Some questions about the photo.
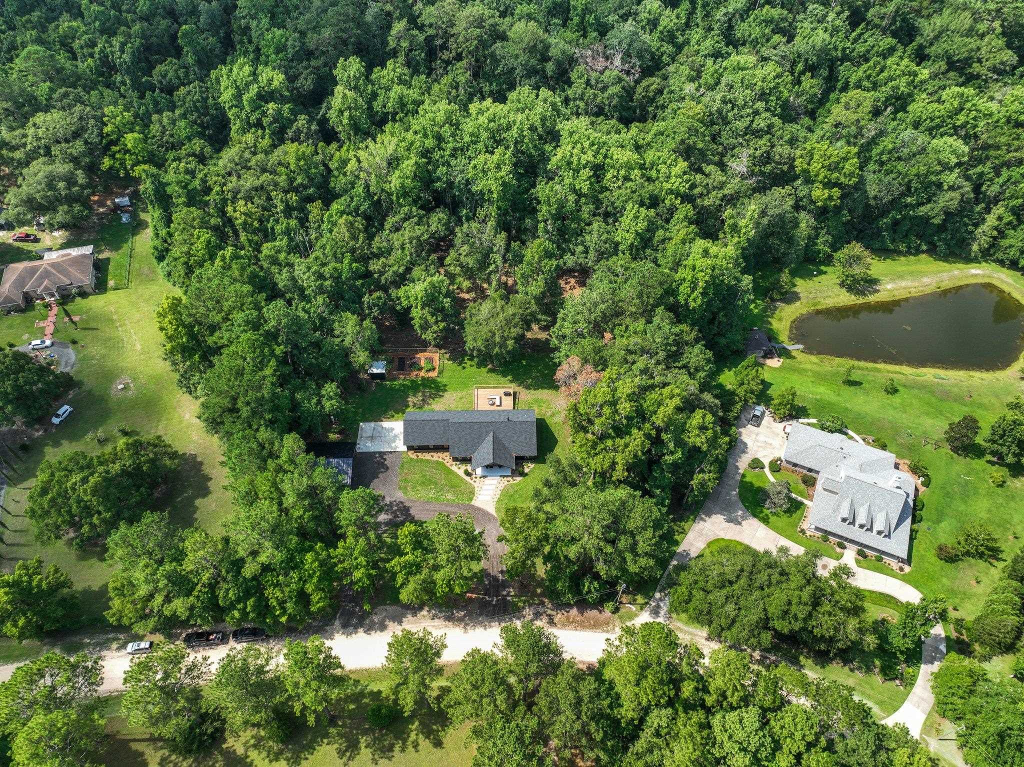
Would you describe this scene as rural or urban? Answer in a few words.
rural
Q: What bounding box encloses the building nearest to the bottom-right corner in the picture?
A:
[783,421,917,564]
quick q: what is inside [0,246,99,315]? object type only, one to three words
house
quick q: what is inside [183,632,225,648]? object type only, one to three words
vehicle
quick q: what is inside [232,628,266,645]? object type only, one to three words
car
